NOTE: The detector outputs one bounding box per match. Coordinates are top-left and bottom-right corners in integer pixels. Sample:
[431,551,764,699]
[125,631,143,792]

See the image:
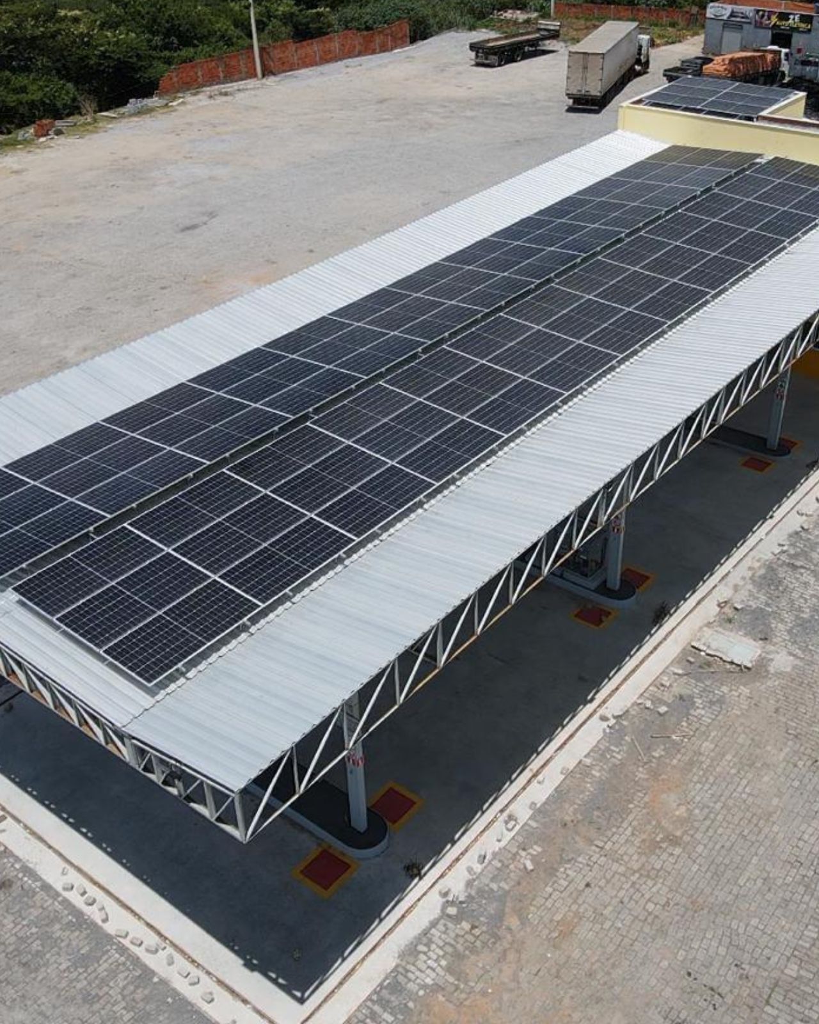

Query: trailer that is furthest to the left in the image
[469,15,562,66]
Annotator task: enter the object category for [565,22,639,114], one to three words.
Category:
trailer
